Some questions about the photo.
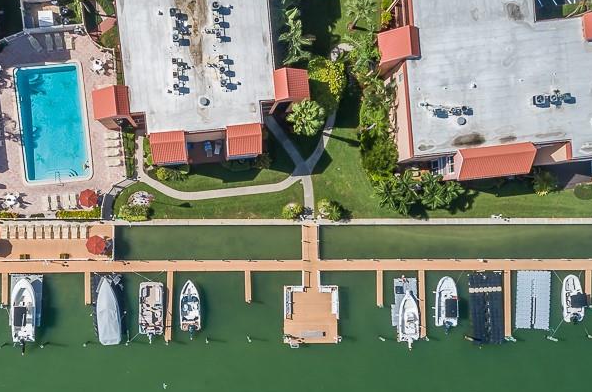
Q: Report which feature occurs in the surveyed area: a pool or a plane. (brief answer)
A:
pool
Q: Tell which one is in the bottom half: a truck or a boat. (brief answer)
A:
boat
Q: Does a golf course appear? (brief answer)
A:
No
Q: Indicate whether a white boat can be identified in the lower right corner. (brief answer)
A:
Yes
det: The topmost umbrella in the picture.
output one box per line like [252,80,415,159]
[79,189,99,209]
